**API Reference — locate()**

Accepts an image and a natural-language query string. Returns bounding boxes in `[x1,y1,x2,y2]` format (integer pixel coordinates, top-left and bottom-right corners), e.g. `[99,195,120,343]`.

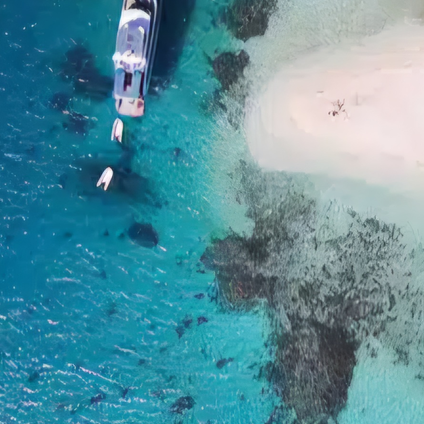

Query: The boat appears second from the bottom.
[111,117,123,142]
